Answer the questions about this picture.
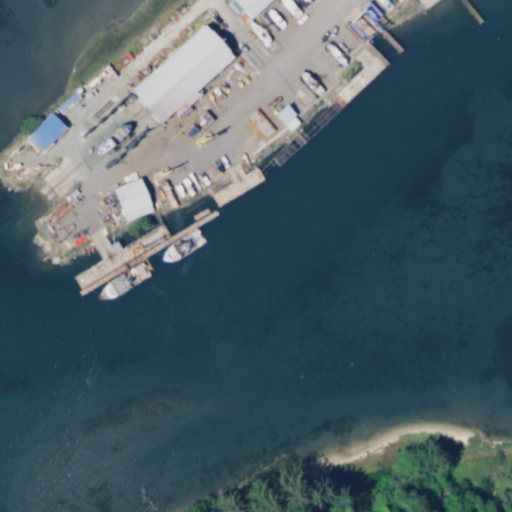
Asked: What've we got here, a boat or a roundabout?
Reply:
boat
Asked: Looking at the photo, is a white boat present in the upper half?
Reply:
Yes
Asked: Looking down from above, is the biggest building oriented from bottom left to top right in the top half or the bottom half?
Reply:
top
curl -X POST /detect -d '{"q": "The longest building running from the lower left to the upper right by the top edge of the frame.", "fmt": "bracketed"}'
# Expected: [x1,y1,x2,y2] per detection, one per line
[132,25,236,124]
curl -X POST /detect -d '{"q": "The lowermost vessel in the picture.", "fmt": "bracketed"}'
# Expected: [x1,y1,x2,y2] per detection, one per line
[100,259,154,298]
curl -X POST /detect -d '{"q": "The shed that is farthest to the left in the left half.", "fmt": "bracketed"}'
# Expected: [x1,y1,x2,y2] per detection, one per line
[29,113,68,152]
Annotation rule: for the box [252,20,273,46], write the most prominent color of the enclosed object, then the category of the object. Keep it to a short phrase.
white boat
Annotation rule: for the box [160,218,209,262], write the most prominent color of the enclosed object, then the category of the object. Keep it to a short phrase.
white ship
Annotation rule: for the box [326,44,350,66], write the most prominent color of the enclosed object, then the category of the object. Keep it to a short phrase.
white boat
